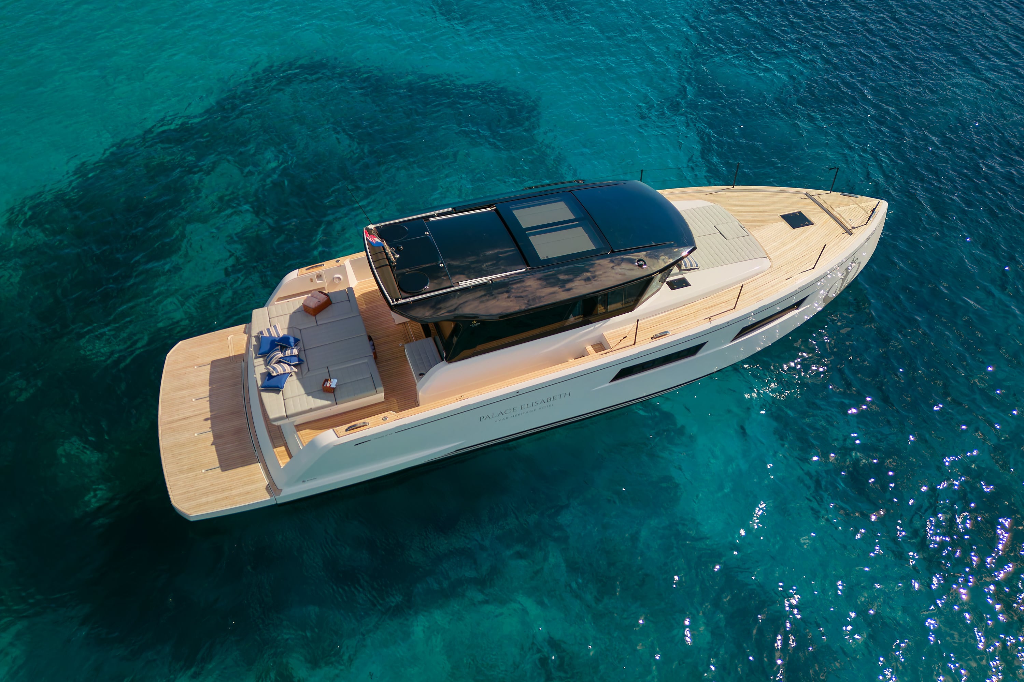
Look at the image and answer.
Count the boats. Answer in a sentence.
In total, 1 boat can be seen.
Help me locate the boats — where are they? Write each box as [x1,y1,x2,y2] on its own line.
[160,162,887,518]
